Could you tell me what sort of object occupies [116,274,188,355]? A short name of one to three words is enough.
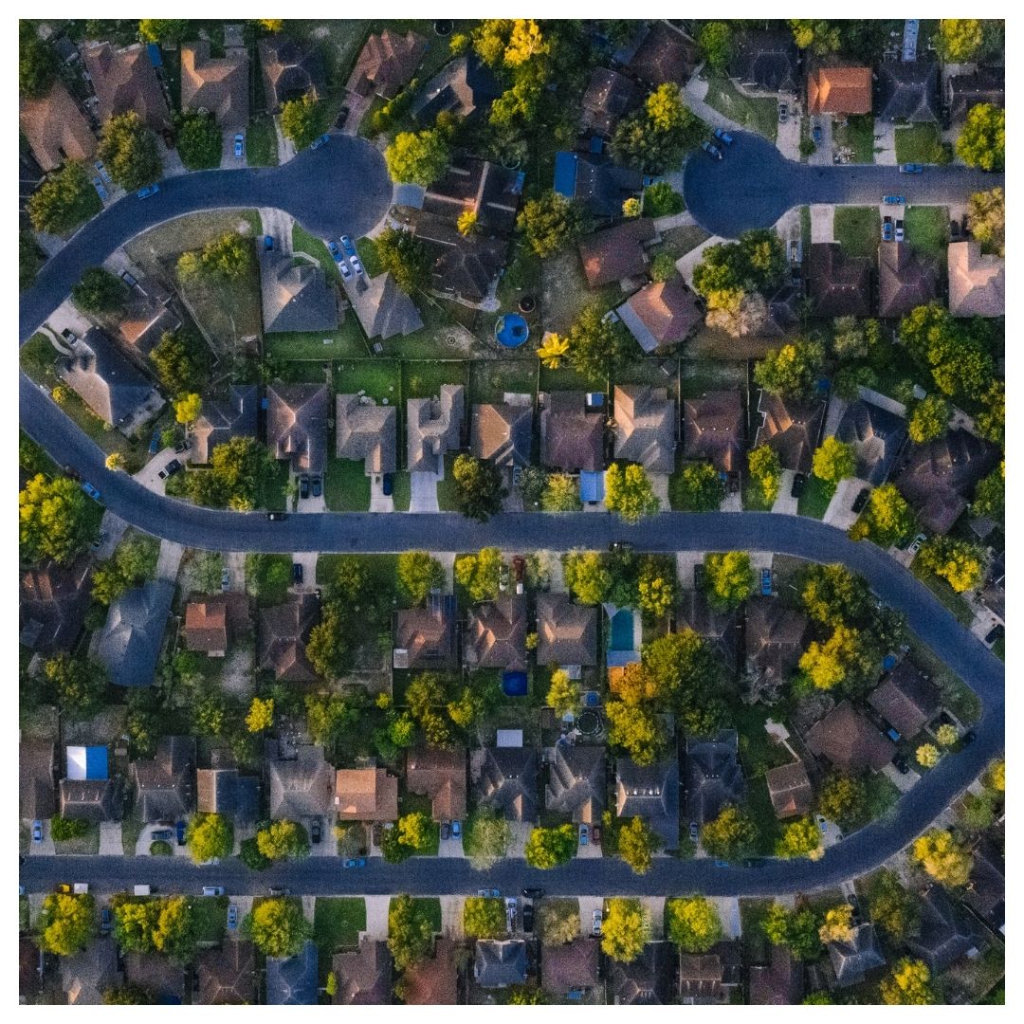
house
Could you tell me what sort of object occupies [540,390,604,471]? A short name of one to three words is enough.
house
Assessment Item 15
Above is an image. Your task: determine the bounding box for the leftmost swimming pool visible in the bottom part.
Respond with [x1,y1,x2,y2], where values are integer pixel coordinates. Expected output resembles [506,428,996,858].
[503,671,527,696]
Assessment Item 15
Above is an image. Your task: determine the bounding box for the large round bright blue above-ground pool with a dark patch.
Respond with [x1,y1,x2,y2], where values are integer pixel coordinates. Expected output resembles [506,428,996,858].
[496,314,529,348]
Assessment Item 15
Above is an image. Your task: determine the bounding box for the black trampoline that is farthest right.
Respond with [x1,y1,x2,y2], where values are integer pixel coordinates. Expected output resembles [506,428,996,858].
[578,712,600,734]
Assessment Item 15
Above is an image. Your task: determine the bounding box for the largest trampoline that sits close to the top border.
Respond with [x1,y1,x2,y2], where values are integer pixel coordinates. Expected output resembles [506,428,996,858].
[435,17,454,36]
